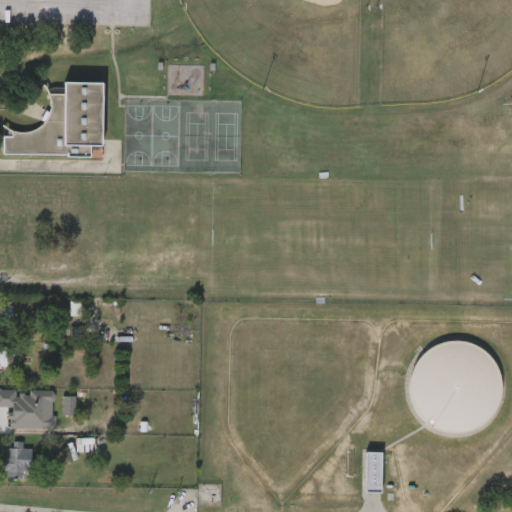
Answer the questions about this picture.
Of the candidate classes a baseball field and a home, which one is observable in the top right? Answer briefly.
baseball field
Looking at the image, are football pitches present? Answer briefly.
Yes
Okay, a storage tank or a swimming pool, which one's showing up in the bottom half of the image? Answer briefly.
storage tank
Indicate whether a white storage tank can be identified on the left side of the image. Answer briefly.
No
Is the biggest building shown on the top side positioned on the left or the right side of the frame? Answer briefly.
left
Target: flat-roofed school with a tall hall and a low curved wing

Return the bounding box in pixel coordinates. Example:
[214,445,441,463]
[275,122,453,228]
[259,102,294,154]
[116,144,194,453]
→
[4,82,104,157]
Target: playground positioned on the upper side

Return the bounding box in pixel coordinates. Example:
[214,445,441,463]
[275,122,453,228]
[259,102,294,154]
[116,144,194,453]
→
[168,65,204,96]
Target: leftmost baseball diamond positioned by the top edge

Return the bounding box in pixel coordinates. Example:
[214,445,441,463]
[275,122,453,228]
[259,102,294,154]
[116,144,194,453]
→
[180,0,360,108]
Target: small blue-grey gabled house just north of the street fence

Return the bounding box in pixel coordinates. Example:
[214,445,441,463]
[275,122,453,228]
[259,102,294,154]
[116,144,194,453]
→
[6,442,33,480]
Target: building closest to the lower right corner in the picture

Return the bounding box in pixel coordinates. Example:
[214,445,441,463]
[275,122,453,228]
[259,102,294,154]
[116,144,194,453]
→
[366,452,384,493]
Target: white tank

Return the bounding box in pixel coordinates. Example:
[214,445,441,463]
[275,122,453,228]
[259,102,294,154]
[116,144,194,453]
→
[405,338,504,438]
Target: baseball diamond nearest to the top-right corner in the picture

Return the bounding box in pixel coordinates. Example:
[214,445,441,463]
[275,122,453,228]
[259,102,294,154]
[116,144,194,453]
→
[382,0,512,106]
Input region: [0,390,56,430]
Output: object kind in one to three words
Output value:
house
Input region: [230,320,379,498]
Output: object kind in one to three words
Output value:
sports field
